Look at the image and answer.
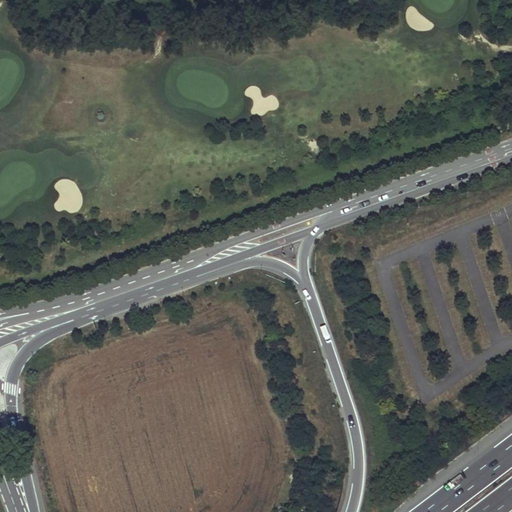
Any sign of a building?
No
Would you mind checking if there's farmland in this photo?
Yes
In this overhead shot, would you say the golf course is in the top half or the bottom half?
top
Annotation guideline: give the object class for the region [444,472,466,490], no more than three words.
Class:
vehicle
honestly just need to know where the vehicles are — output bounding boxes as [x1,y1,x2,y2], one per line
[340,207,351,213]
[378,194,388,200]
[454,488,464,496]
[320,324,330,342]
[456,173,468,180]
[360,200,370,206]
[310,226,320,236]
[488,458,498,468]
[303,290,310,300]
[416,180,427,186]
[444,472,466,490]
